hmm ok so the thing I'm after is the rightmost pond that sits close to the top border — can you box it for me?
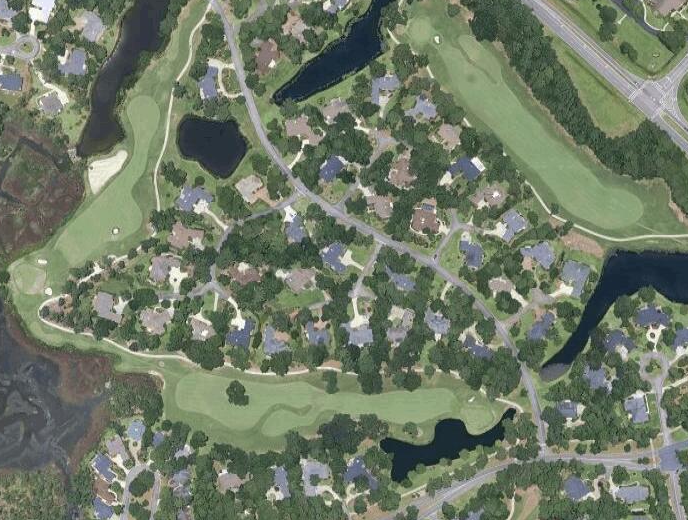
[274,0,394,105]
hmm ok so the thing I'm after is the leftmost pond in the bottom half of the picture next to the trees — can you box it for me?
[381,409,517,482]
